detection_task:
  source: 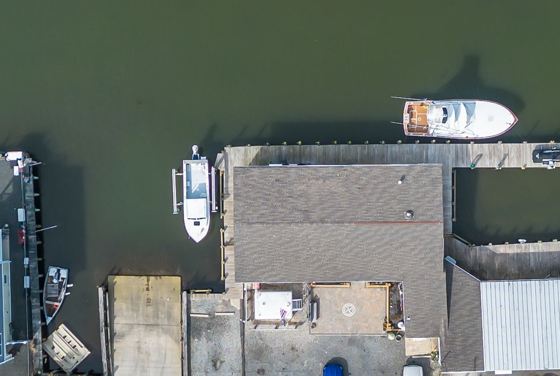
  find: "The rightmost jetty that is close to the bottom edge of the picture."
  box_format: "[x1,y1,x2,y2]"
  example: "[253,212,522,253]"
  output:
[45,324,91,370]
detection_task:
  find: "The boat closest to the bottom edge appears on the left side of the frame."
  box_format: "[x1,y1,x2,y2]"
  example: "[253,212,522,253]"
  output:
[44,264,73,321]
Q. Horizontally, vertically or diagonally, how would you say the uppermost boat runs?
horizontally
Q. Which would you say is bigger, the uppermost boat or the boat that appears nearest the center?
the uppermost boat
